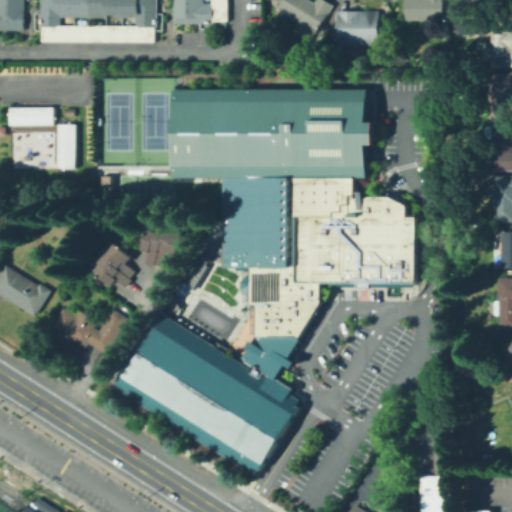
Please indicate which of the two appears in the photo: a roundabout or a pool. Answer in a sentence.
The one in the frame is a pool.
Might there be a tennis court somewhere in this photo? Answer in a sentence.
Yes, the photo shows a tennis court.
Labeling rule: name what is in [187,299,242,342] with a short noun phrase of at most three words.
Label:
swimming pool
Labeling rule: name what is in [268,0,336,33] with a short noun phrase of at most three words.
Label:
house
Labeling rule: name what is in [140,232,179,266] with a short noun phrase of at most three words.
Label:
house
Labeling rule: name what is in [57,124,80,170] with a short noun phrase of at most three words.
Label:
building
